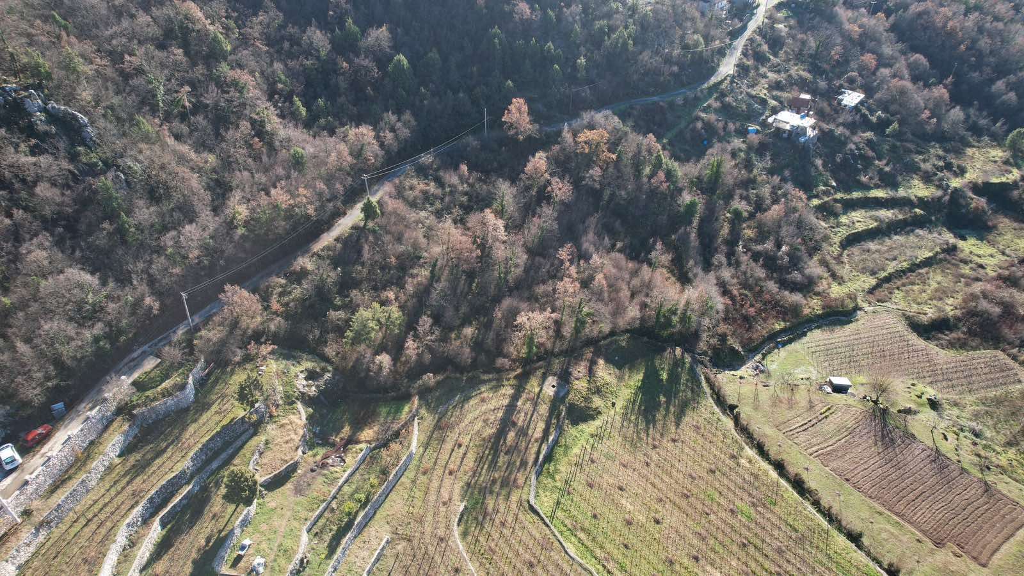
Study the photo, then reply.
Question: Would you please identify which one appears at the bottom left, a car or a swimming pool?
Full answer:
The feature located at the bottom left is a car.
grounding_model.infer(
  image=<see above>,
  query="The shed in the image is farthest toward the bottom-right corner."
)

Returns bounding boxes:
[827,376,852,393]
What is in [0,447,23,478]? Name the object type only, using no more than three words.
car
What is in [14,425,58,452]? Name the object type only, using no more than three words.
car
